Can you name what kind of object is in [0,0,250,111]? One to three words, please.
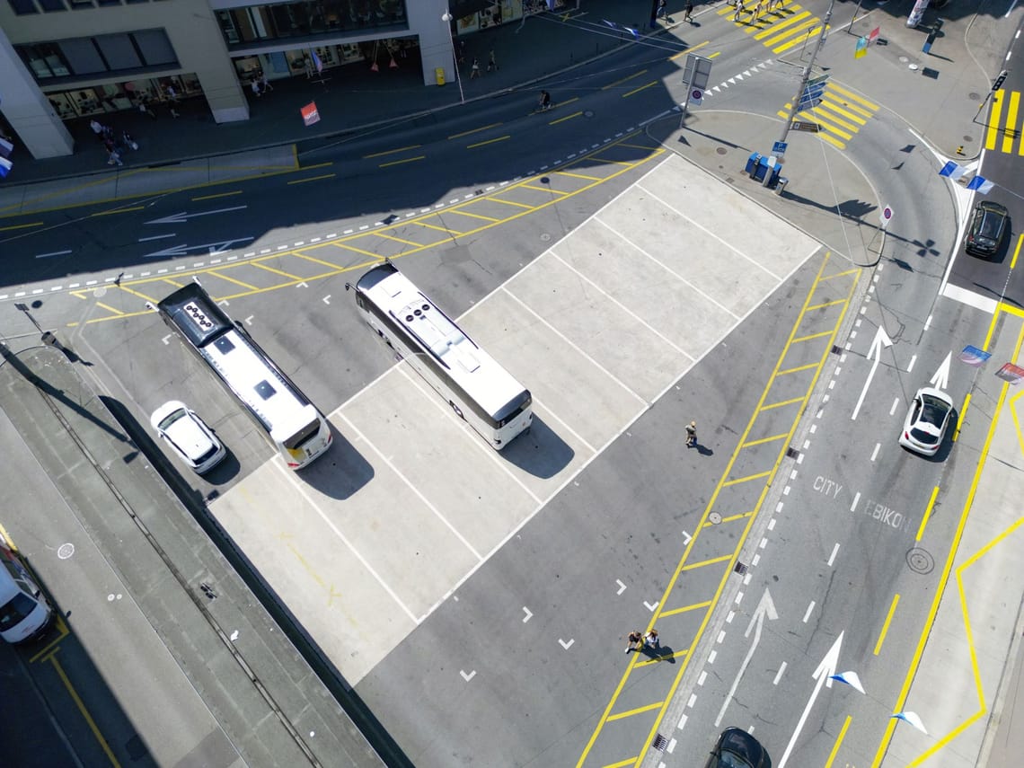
building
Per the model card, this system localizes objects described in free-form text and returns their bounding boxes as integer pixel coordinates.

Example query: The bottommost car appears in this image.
[706,726,757,768]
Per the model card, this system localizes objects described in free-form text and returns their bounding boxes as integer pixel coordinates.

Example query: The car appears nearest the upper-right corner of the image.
[960,203,1009,264]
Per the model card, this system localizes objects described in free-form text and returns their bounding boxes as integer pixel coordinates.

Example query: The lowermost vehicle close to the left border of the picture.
[0,540,54,647]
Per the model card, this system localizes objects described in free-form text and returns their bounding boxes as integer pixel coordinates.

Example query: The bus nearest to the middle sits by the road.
[342,253,530,446]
